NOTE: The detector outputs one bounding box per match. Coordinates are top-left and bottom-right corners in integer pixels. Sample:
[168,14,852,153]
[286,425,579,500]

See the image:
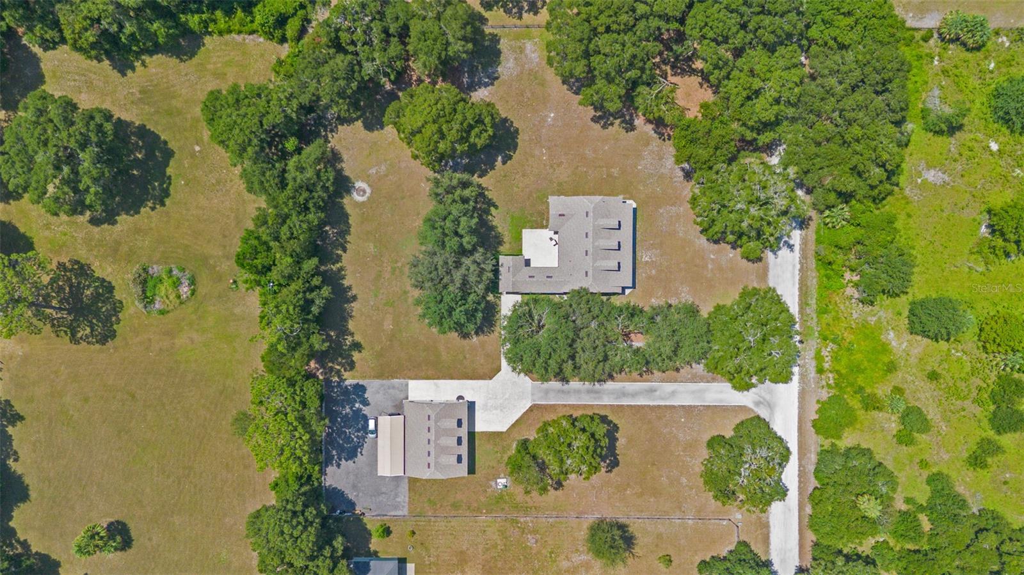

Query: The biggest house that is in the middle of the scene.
[499,194,633,293]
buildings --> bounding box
[499,194,633,293]
[347,556,399,575]
[405,400,468,477]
